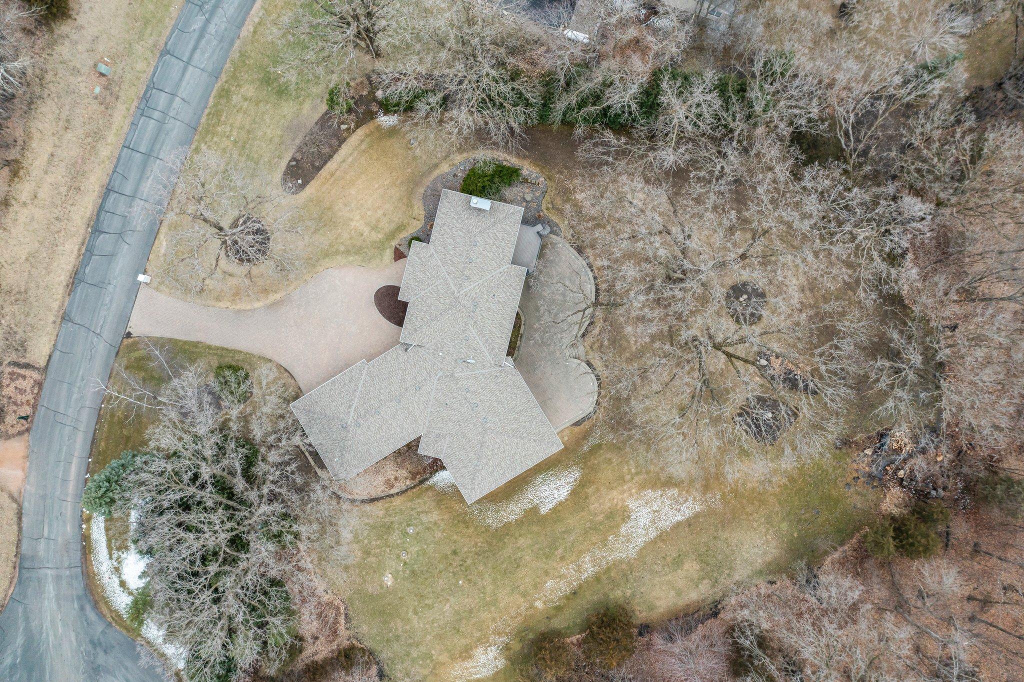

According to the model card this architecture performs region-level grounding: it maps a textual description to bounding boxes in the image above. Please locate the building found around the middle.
[290,188,564,505]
